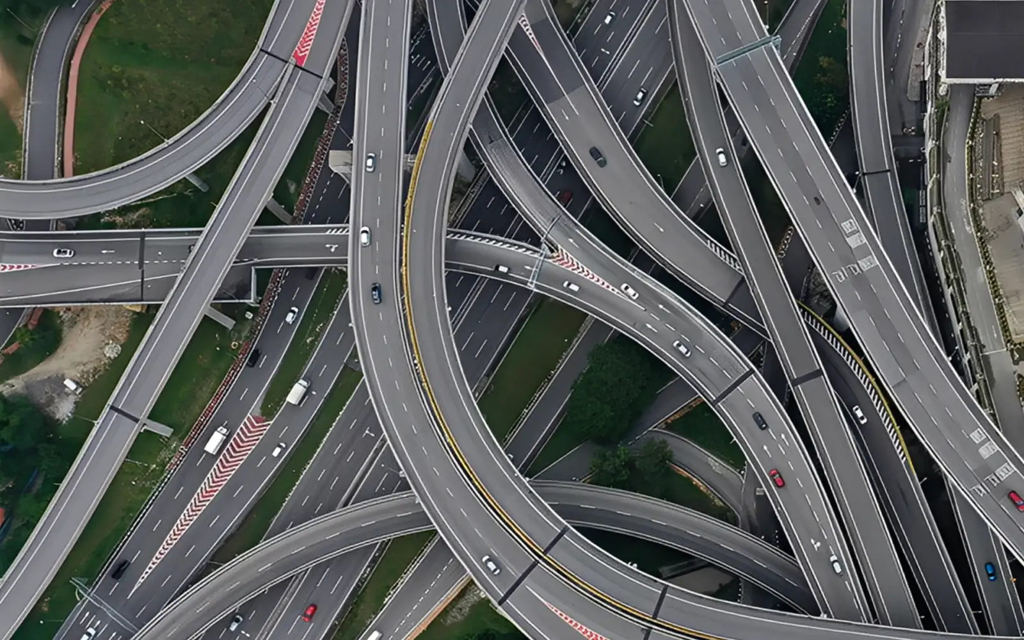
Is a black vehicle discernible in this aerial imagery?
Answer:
Yes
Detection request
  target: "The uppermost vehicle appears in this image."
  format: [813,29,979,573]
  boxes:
[603,10,617,27]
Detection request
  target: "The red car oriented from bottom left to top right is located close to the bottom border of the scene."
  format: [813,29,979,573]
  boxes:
[302,603,317,622]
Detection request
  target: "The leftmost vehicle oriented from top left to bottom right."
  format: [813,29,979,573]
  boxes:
[62,378,80,394]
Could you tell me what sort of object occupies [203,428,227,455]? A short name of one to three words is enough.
truck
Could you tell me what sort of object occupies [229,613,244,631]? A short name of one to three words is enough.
car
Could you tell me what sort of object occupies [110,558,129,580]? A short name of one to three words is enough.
car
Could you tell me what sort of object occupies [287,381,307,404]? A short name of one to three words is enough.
vehicle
